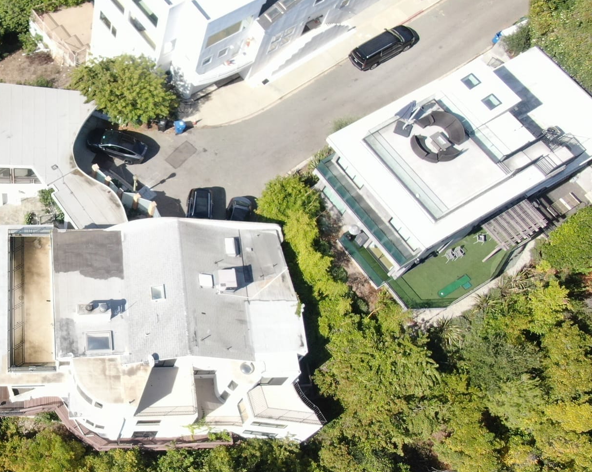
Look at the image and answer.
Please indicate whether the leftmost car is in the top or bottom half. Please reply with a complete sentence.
The leftmost car is in the top half of the image.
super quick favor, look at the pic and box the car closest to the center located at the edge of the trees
[228,191,258,220]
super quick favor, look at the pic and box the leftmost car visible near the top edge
[353,19,425,69]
